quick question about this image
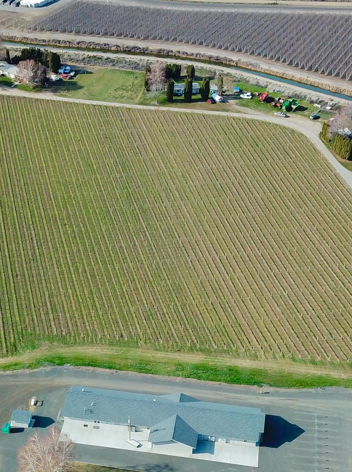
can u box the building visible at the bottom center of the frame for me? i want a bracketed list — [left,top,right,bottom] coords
[63,386,269,456]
